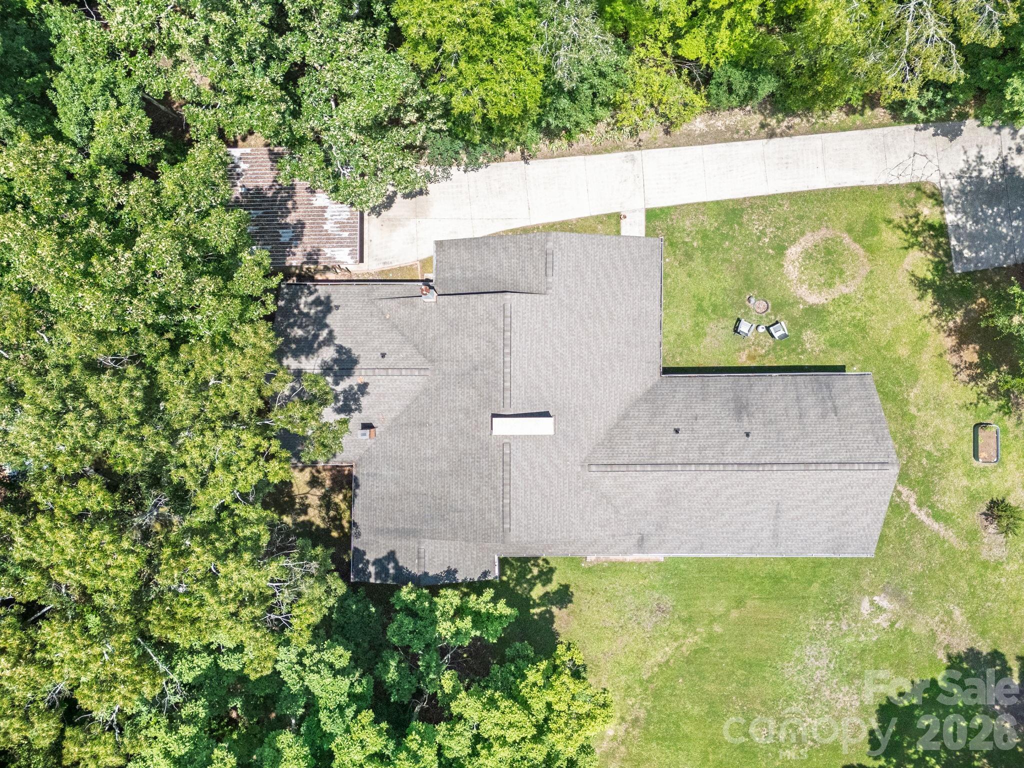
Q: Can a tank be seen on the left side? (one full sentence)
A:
No, there's no tank to be seen on the left side.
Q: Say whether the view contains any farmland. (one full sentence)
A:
No, there's no farmland in this view.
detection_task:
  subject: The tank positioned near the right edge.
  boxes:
[971,423,999,462]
